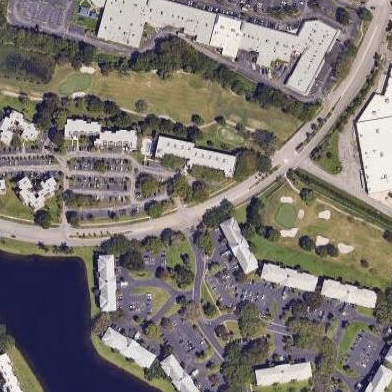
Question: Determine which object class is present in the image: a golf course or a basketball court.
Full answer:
There is a golf course in the scene.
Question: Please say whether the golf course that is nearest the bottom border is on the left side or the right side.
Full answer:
It is on the right.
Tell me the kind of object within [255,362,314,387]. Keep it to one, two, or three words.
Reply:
building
